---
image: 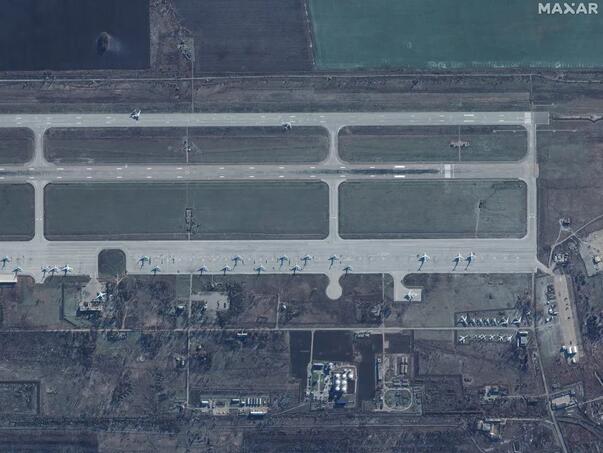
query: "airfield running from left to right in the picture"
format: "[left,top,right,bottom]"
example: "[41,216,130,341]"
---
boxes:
[0,112,579,366]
